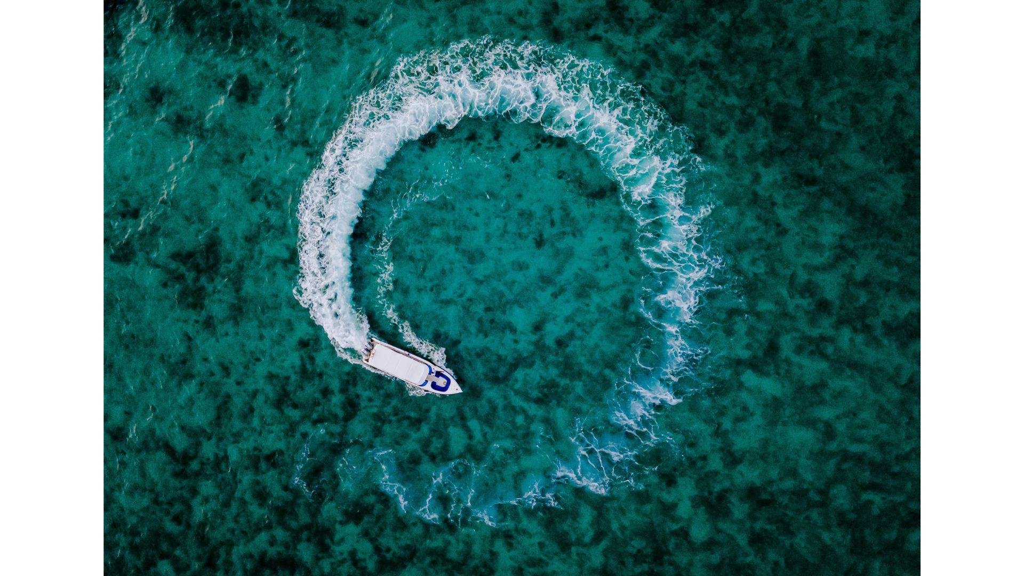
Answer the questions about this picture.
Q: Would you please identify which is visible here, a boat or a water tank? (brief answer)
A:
boat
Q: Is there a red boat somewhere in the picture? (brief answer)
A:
No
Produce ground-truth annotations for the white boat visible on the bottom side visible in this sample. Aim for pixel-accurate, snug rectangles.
[361,337,463,394]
